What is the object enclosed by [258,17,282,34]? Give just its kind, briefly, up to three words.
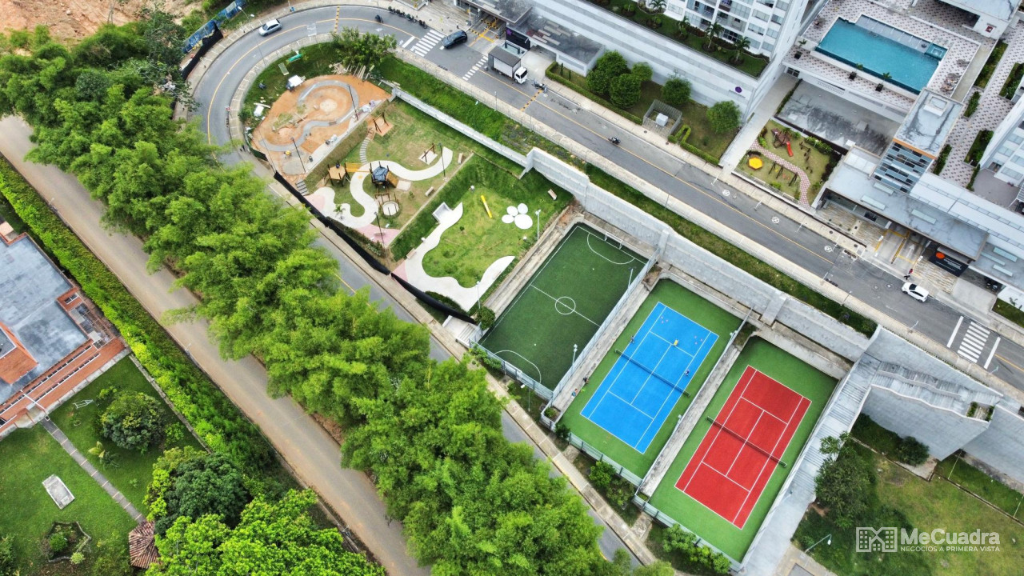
car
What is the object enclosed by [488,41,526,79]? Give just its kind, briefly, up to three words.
truck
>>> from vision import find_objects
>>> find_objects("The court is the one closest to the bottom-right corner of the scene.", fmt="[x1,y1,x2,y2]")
[644,338,839,571]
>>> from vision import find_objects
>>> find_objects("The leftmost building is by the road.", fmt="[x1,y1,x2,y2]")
[0,223,129,433]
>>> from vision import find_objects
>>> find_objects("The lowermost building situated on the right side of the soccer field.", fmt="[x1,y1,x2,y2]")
[822,149,1024,321]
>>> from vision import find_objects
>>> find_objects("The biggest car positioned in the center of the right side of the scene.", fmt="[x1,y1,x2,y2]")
[902,282,932,301]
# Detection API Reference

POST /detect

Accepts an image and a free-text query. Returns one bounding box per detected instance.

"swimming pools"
[815,14,947,94]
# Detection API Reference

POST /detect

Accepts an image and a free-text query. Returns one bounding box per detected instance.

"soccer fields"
[481,225,649,404]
